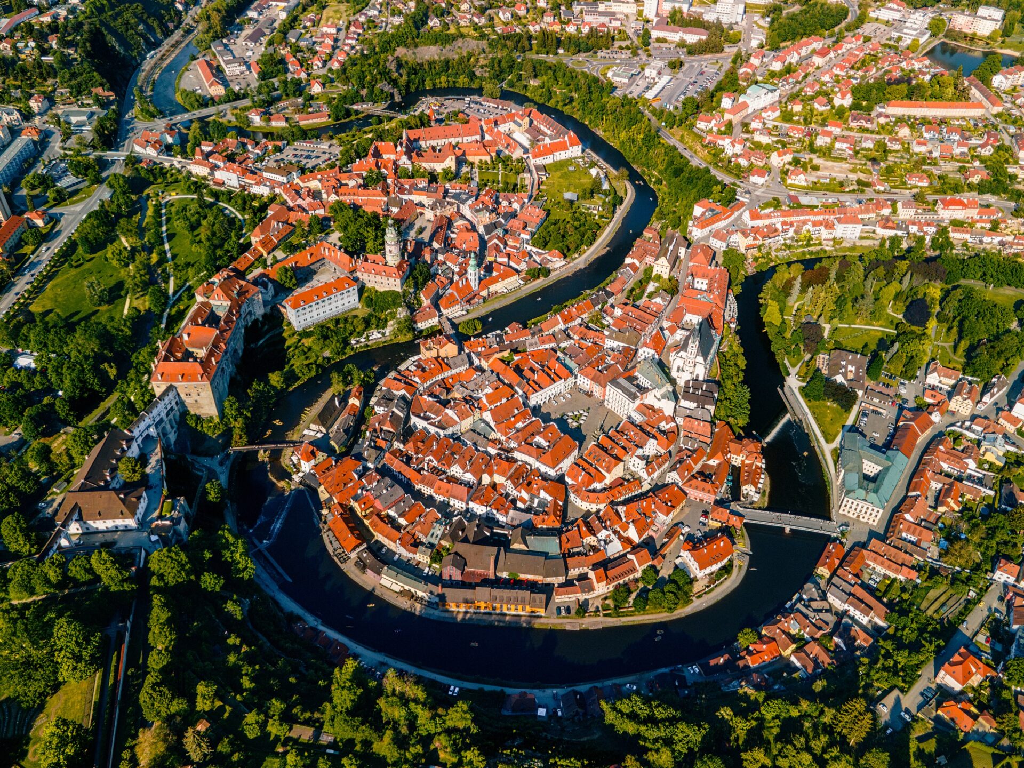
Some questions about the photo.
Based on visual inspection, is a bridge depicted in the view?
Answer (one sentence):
Yes, the picture does show a bridge.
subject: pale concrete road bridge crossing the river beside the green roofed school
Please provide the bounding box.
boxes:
[740,507,851,540]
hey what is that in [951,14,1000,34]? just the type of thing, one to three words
house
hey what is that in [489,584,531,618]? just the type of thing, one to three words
house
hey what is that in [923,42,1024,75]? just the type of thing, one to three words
pond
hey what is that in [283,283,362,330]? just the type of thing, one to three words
building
